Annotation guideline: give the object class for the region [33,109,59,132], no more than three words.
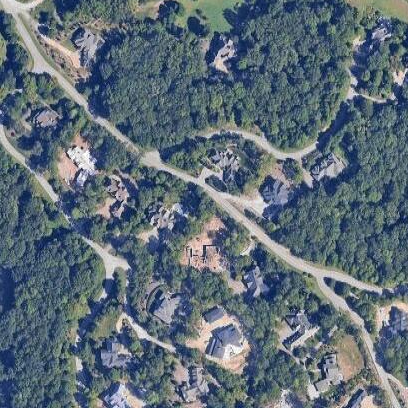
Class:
house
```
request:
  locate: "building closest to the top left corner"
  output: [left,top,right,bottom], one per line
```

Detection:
[74,28,104,68]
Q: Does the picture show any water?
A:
No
